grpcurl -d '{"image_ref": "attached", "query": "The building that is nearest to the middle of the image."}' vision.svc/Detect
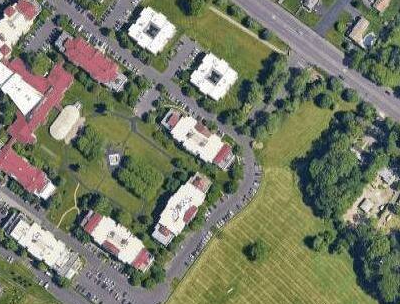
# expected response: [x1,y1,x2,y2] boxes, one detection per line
[161,109,235,170]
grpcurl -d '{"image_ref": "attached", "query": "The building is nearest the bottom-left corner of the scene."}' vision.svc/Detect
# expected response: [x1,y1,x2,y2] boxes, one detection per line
[3,213,80,281]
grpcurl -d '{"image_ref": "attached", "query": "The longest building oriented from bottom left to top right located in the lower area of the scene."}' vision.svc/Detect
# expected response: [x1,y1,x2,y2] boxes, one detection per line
[152,172,212,247]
